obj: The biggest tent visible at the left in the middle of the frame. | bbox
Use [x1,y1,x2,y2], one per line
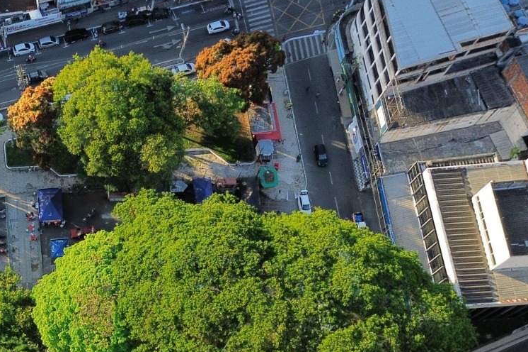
[37,188,63,228]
